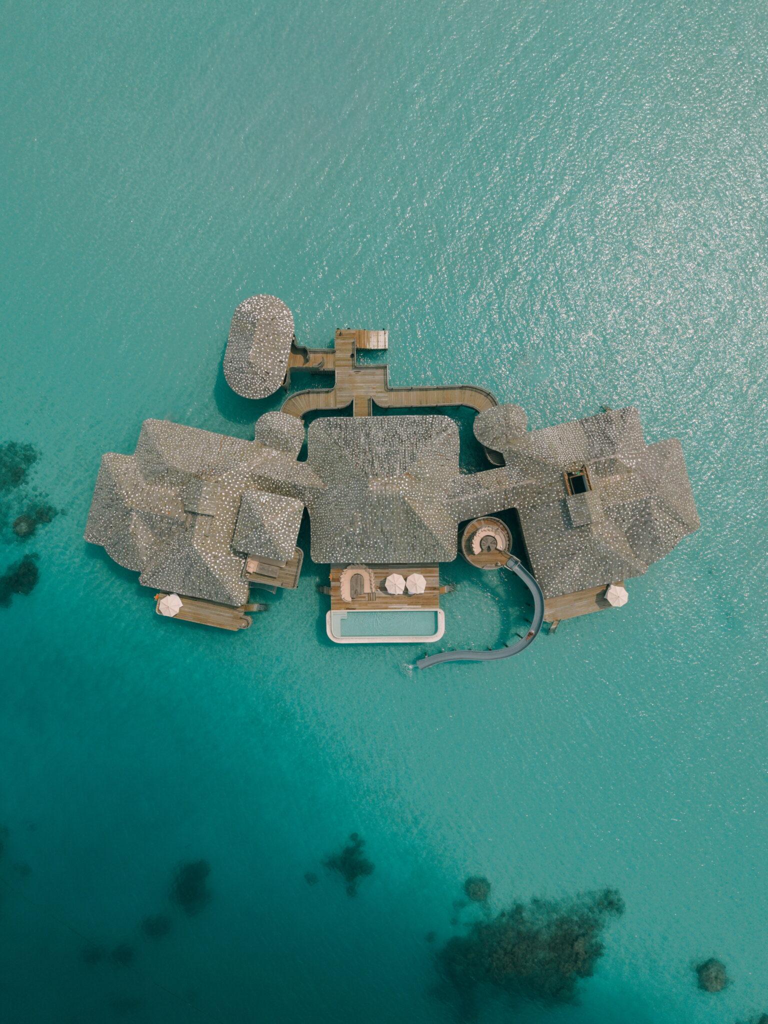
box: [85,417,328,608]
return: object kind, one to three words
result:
house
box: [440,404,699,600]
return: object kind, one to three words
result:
house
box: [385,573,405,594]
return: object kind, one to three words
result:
umbrella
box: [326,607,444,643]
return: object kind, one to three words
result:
swimming pool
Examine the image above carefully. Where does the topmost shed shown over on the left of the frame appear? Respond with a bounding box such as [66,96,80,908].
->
[223,295,294,399]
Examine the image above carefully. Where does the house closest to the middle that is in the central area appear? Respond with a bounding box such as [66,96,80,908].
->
[307,414,459,564]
